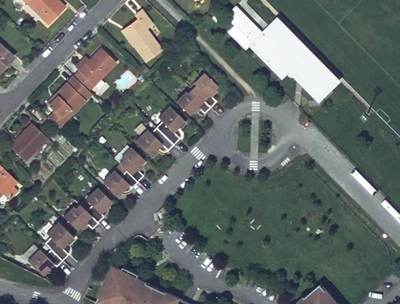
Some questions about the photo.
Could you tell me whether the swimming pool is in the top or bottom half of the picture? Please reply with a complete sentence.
The swimming pool is in the top half of the image.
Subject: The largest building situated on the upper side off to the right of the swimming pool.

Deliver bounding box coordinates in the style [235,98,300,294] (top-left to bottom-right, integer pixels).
[228,6,342,104]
